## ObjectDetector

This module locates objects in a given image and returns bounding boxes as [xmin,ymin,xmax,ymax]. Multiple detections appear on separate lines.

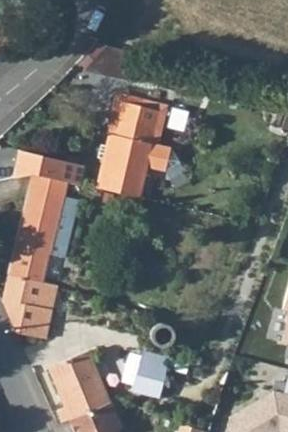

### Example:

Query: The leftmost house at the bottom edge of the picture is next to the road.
[46,354,122,432]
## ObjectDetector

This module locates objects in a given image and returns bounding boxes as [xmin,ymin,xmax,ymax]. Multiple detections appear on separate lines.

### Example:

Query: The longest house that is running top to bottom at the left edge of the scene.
[0,150,83,340]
